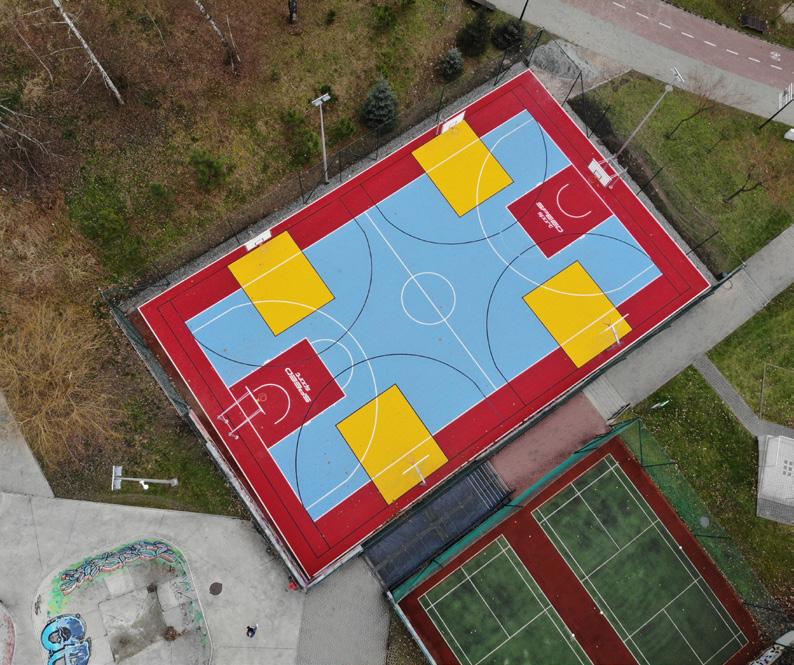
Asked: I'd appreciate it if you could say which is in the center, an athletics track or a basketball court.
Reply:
basketball court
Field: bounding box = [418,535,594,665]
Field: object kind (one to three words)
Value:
sports court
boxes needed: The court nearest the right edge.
[531,453,751,665]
